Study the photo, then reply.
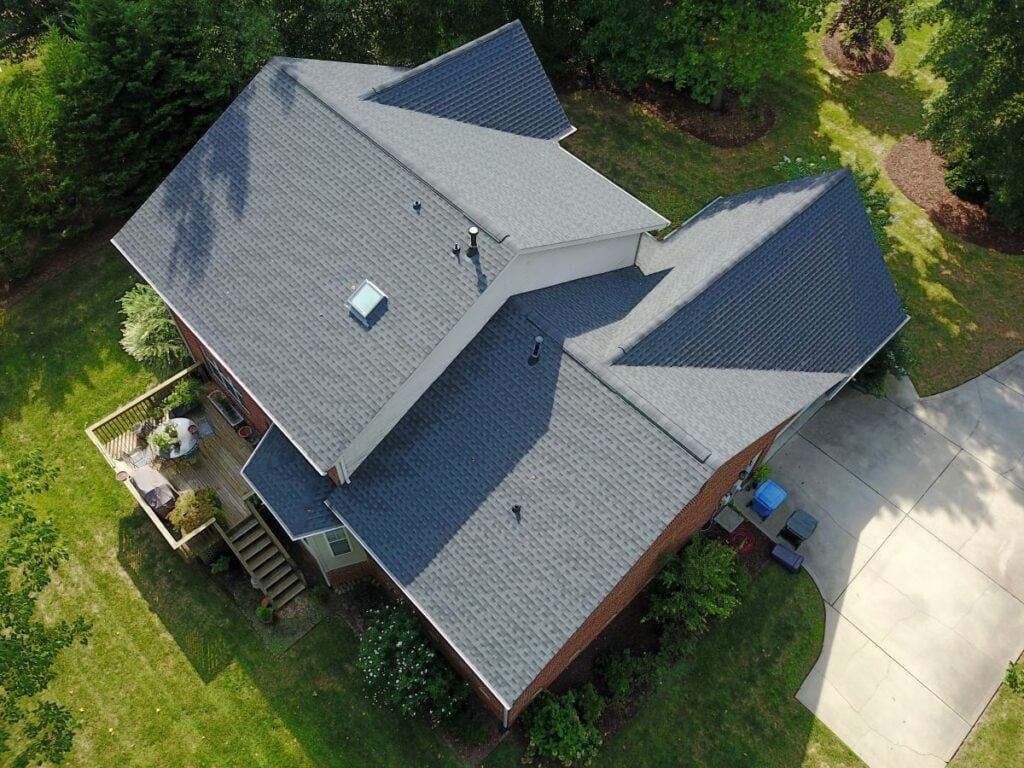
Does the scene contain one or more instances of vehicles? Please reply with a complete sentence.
No, I can see no vehicle in this picture.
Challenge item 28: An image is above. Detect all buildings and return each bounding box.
[111,20,914,730]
